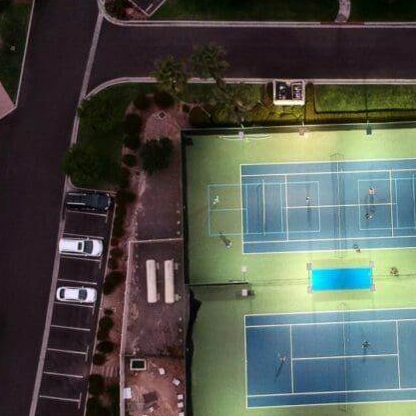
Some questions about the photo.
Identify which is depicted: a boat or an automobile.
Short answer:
automobile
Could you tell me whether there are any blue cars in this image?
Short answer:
No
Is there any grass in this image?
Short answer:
Yes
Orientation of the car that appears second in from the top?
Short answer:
from side to side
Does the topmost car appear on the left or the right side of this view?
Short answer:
left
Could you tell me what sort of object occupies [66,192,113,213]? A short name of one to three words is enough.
car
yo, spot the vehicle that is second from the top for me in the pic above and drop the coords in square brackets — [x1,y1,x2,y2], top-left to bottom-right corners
[58,236,104,257]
